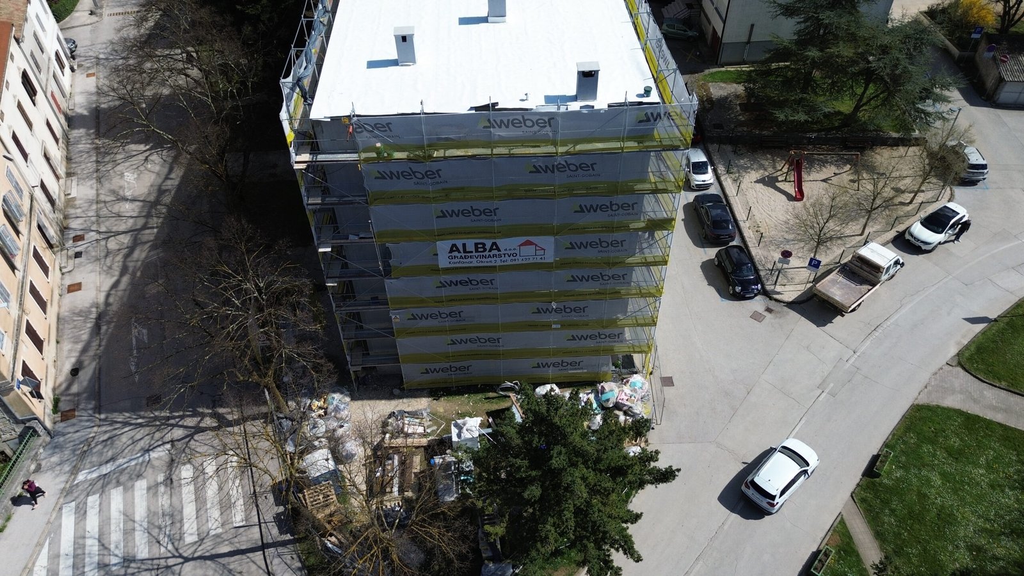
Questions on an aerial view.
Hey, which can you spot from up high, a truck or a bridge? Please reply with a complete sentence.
I can see a truck in this picture.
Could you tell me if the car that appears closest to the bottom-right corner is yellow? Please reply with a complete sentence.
No, the color of the car that appears closest to the bottom-right corner is white.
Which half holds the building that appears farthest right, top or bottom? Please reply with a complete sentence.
It is in the top half that the building that appears farthest right appears.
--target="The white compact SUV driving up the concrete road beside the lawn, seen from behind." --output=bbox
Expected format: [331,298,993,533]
[742,432,825,514]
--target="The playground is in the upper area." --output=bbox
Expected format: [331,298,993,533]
[691,127,959,302]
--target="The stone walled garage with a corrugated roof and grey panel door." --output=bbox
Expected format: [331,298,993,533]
[971,30,1024,104]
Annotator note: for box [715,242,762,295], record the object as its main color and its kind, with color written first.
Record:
black car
